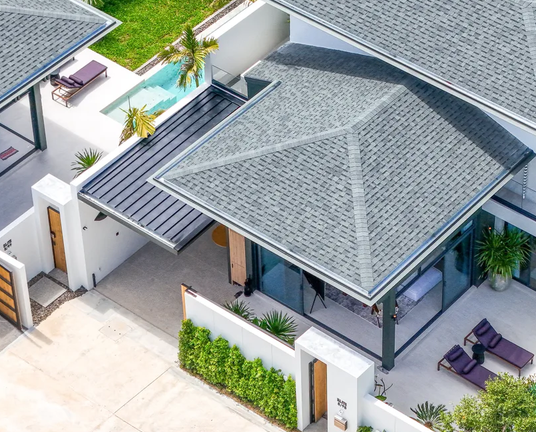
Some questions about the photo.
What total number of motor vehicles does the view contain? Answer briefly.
zero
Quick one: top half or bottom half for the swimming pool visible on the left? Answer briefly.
top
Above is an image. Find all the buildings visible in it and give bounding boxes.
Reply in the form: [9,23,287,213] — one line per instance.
[80,0,536,372]
[0,0,122,181]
